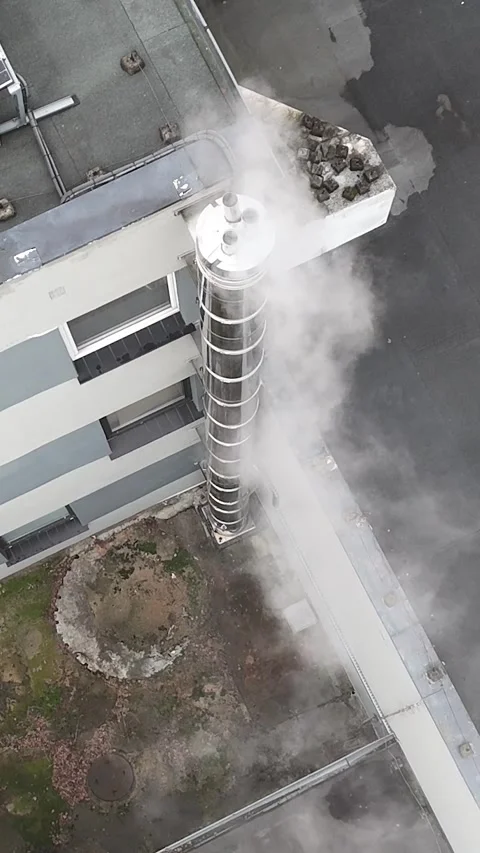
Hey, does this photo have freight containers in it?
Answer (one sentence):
No, there isn't any freight container down there.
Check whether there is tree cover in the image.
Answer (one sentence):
No, the scene doesn't show any tree cover.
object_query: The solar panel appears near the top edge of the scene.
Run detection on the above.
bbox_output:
[0,42,36,117]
